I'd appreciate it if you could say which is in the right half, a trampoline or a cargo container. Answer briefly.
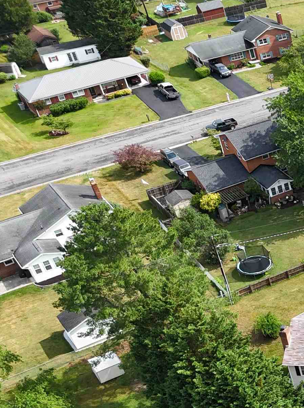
trampoline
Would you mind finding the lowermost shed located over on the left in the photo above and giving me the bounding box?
[89,348,126,386]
